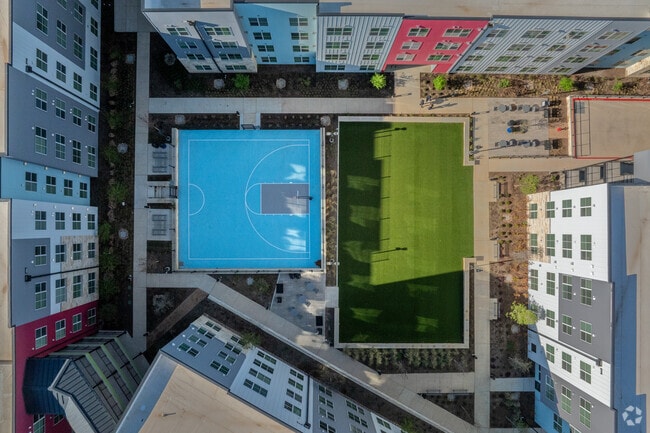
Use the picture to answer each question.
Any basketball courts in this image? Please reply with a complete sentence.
Yes, you can see a basketball court in this photo.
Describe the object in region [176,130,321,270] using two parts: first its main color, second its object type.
blue basketball court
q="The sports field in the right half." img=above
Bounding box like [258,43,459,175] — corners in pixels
[340,121,474,343]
